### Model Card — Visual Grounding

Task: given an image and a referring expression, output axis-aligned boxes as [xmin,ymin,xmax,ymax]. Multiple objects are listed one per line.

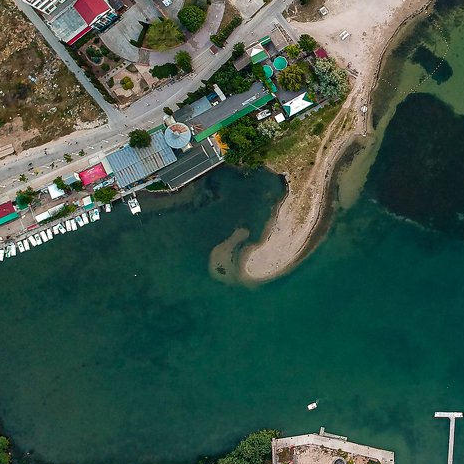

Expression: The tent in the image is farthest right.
[283,93,316,117]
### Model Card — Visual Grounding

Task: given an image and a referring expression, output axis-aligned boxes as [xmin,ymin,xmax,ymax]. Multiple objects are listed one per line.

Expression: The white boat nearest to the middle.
[127,196,142,217]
